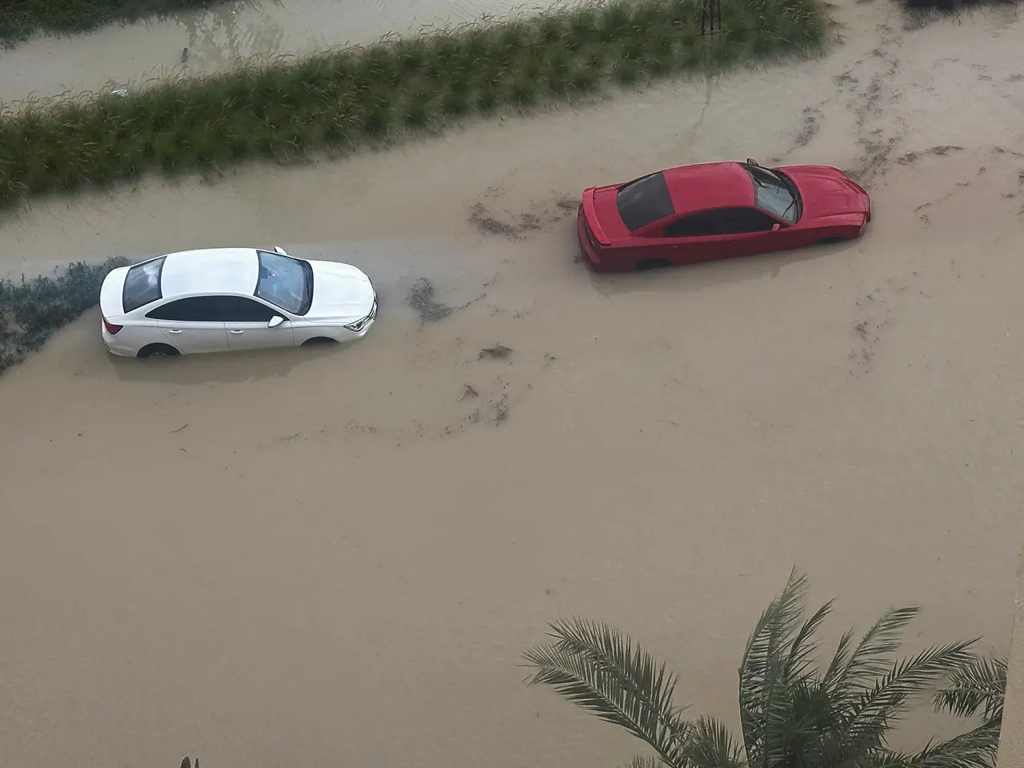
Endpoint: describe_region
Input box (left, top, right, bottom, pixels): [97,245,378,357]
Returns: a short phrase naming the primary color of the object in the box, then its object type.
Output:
white car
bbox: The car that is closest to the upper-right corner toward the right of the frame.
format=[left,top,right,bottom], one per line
[576,157,874,274]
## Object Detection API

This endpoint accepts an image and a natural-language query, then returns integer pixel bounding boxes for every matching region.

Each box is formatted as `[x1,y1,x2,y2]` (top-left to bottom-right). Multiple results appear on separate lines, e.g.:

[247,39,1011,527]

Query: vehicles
[97,245,378,357]
[576,157,874,274]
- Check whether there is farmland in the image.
No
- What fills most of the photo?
water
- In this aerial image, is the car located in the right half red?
Yes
